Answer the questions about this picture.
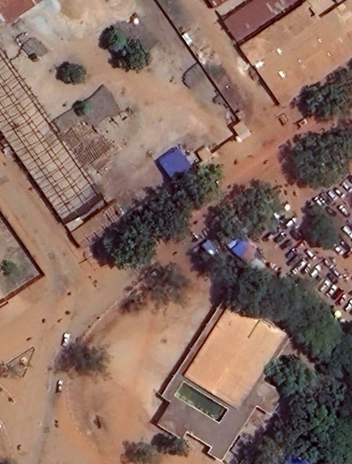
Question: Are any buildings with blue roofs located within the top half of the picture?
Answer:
Yes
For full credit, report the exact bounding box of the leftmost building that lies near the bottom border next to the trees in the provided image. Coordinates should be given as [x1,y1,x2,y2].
[157,301,290,461]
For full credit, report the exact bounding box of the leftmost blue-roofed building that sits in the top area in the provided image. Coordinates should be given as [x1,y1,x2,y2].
[160,147,190,177]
